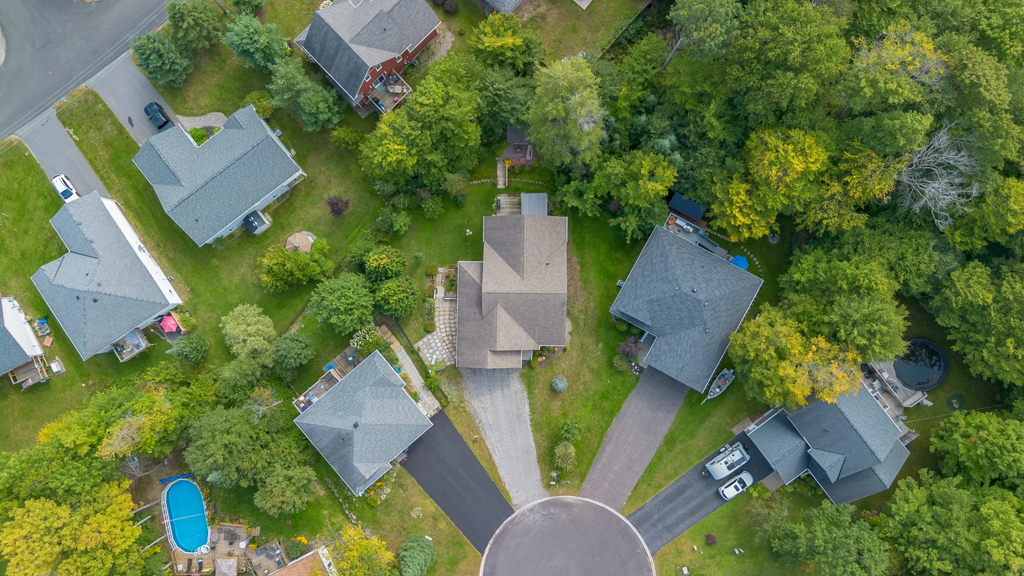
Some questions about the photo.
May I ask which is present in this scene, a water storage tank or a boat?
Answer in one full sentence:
Visible in the photo is a boat.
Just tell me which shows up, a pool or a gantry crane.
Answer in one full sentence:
There is a pool in the scene.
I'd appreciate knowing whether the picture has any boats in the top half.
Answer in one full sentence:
No, no boat can be made out in the top half.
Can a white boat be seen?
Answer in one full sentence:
No, the scene contains no white boat.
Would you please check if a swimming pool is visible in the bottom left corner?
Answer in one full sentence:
Yes, there is a swimming pool in the bottom left corner.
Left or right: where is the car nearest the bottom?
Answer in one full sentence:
The car nearest the bottom appears in the right half of the scene.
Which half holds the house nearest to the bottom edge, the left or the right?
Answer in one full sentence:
The house nearest to the bottom edge appears in the left half of the scene.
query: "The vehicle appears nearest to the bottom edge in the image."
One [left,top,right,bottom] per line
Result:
[716,470,755,502]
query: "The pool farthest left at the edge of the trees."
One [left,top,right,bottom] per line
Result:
[160,477,212,553]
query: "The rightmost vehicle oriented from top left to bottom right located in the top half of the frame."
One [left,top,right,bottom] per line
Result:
[139,94,177,133]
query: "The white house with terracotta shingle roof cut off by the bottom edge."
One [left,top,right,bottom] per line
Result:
[261,542,343,576]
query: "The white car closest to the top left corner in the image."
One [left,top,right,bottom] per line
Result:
[53,175,81,203]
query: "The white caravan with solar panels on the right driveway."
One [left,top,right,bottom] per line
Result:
[699,440,750,479]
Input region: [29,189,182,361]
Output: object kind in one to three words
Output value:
house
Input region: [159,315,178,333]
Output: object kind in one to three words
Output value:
umbrella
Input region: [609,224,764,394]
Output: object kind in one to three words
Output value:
house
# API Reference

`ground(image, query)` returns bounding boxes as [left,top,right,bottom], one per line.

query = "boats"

[701,368,738,407]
